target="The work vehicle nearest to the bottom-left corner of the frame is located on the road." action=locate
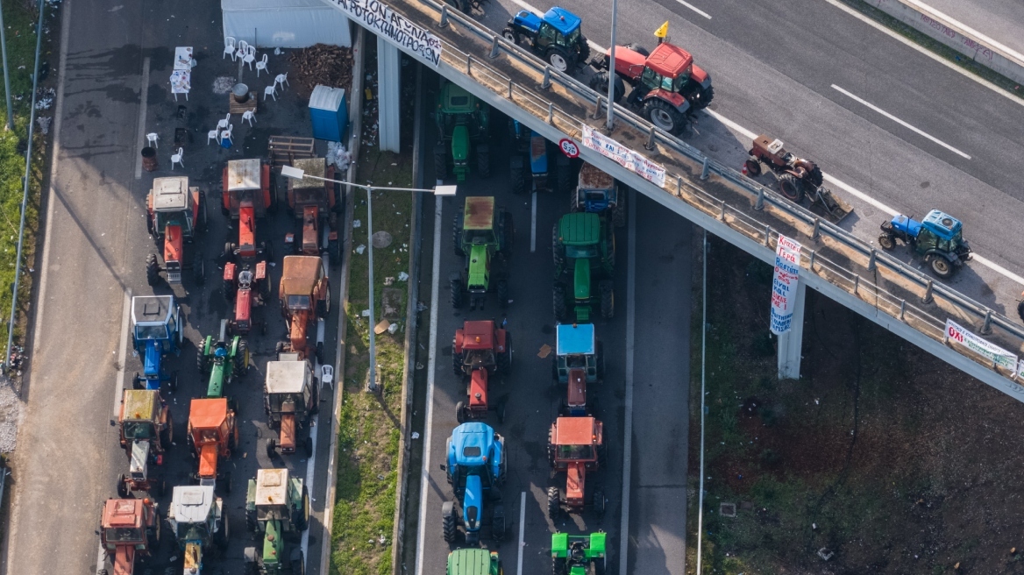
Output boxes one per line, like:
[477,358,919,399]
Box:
[92,498,159,575]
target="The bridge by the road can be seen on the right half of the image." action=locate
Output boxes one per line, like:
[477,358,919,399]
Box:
[365,0,1024,403]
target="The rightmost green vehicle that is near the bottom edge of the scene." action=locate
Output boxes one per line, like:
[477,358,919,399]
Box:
[549,535,609,575]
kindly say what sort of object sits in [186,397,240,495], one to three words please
work vehicle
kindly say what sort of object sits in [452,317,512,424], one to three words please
work vehicle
